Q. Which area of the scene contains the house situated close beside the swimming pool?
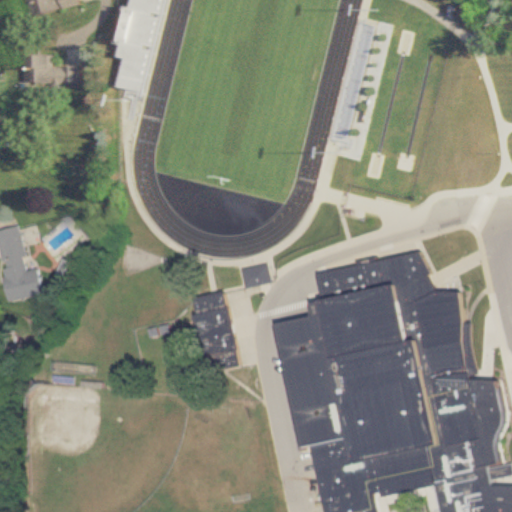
left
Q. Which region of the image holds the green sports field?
top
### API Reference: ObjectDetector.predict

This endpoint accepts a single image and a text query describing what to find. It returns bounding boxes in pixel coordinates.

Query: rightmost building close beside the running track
[272,250,512,512]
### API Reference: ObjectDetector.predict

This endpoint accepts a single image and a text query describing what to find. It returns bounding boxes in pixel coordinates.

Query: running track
[132,0,362,256]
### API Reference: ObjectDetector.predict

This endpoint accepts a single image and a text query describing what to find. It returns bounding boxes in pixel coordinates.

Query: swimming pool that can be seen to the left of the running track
[42,217,90,264]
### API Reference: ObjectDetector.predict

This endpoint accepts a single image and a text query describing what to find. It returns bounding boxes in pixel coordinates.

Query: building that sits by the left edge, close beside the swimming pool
[0,228,44,301]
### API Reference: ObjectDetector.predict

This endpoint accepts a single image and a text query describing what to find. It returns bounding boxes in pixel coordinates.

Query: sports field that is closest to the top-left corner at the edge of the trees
[154,0,340,204]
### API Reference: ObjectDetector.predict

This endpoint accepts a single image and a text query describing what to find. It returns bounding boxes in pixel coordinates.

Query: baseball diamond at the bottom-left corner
[26,384,122,512]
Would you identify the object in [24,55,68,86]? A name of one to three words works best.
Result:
house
